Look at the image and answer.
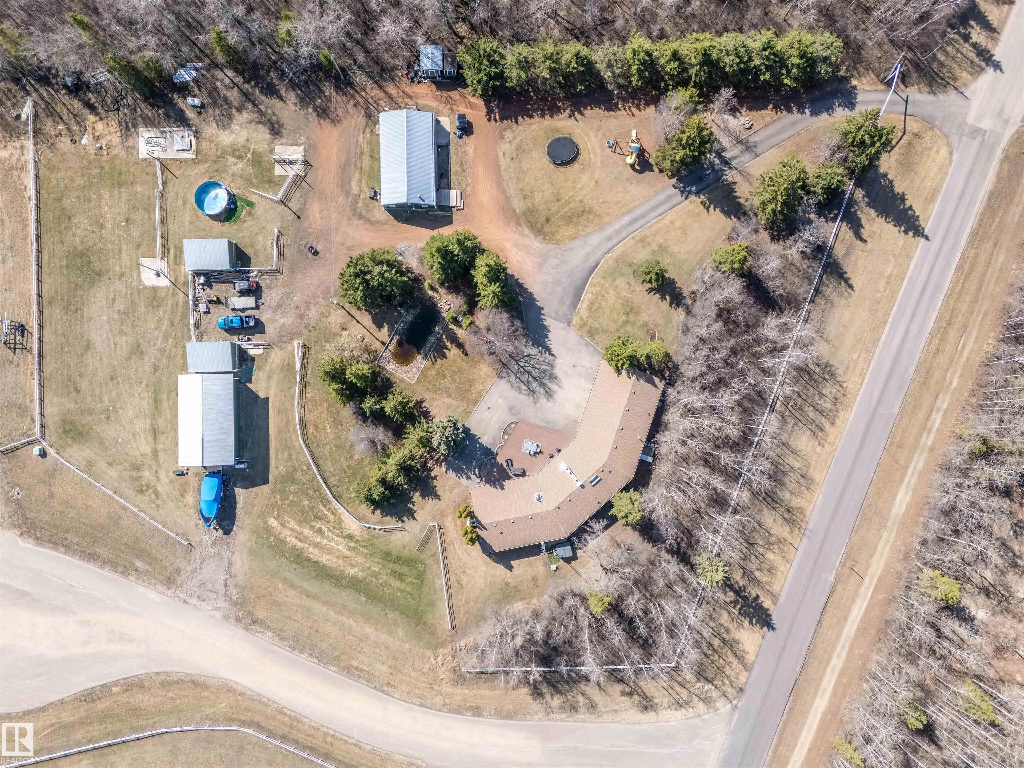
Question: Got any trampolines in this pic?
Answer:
Yes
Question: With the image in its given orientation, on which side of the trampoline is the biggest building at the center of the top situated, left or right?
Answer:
left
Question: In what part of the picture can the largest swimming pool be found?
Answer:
top left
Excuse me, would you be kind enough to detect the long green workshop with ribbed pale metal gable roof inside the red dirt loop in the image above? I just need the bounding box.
[379,109,437,210]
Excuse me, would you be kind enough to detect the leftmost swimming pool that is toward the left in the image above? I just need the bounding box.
[193,180,233,218]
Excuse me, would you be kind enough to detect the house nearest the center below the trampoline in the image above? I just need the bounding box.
[470,360,665,555]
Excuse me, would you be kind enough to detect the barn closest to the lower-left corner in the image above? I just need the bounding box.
[177,373,242,472]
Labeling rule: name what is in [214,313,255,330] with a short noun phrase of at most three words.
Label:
vehicle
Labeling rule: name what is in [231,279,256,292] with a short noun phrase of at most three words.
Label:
vehicle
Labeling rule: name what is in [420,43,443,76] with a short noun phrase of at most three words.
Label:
shed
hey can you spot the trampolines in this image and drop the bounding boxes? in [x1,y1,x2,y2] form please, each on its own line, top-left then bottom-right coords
[546,133,579,163]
